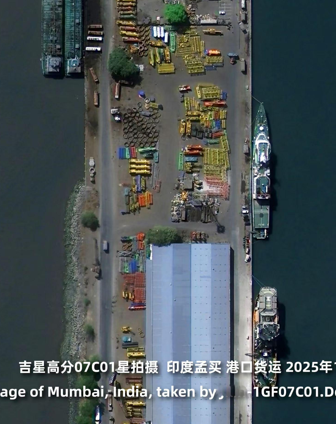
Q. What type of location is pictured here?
port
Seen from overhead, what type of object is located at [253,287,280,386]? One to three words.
ship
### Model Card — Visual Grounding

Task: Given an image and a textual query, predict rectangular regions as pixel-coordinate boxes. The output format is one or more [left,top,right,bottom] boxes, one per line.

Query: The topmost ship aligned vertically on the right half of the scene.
[252,102,270,238]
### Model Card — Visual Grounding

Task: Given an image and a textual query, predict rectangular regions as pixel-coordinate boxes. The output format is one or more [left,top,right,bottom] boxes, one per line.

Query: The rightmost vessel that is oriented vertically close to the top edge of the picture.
[65,0,81,76]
